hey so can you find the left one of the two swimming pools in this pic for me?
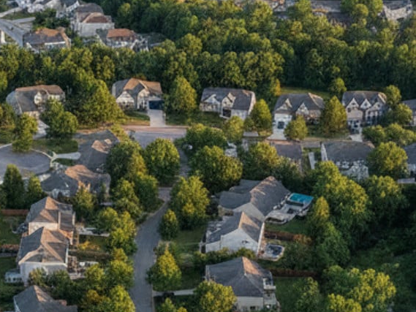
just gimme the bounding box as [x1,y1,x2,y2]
[262,243,285,258]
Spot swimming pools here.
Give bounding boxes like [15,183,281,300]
[262,243,285,258]
[286,194,314,209]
